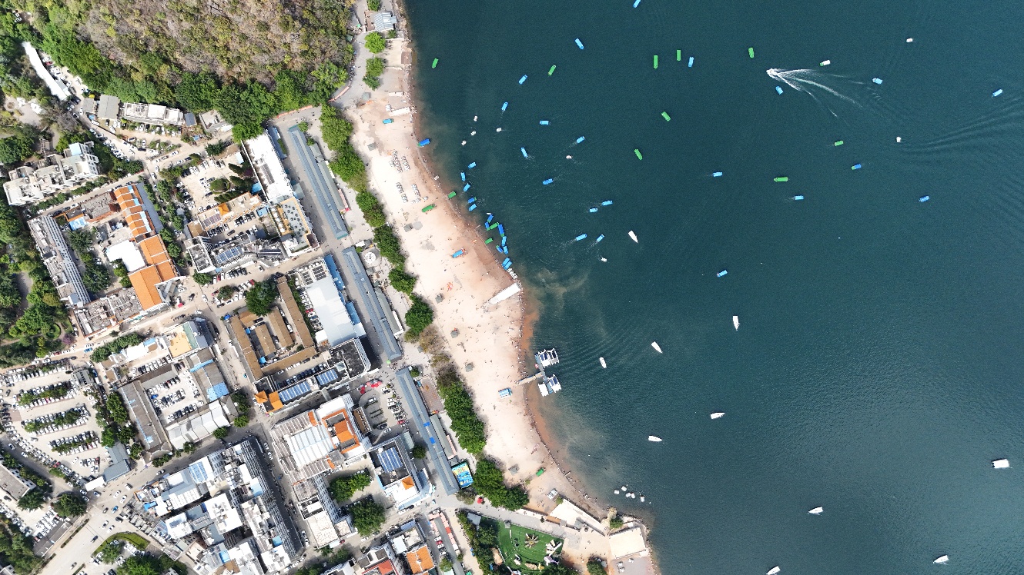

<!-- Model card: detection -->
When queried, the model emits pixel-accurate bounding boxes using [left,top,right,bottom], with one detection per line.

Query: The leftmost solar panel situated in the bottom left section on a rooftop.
[190,462,208,483]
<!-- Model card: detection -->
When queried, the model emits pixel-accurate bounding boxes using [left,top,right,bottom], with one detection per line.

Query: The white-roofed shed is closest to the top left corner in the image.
[23,41,75,100]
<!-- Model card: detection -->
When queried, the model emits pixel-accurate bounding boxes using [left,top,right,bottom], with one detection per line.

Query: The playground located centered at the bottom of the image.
[478,514,564,575]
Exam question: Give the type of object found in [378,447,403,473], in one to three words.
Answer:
solar panel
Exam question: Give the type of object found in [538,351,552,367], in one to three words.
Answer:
boat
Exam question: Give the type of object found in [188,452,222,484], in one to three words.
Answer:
building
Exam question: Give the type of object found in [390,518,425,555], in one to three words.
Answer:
house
